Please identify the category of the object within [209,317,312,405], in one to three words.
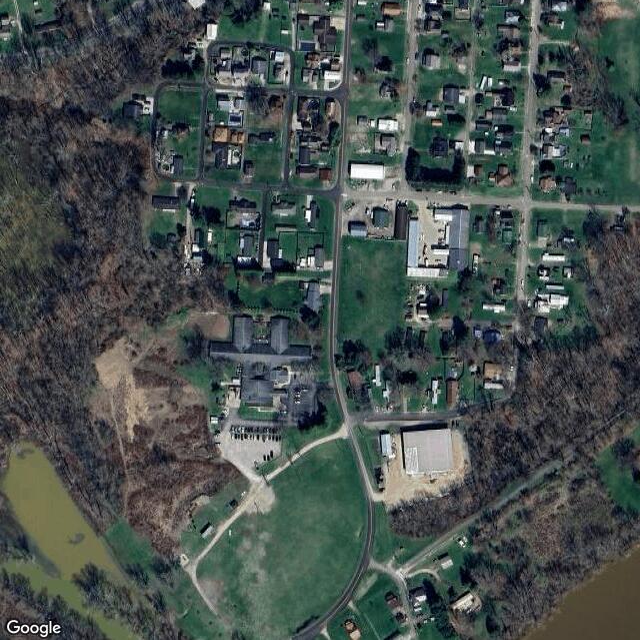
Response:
building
